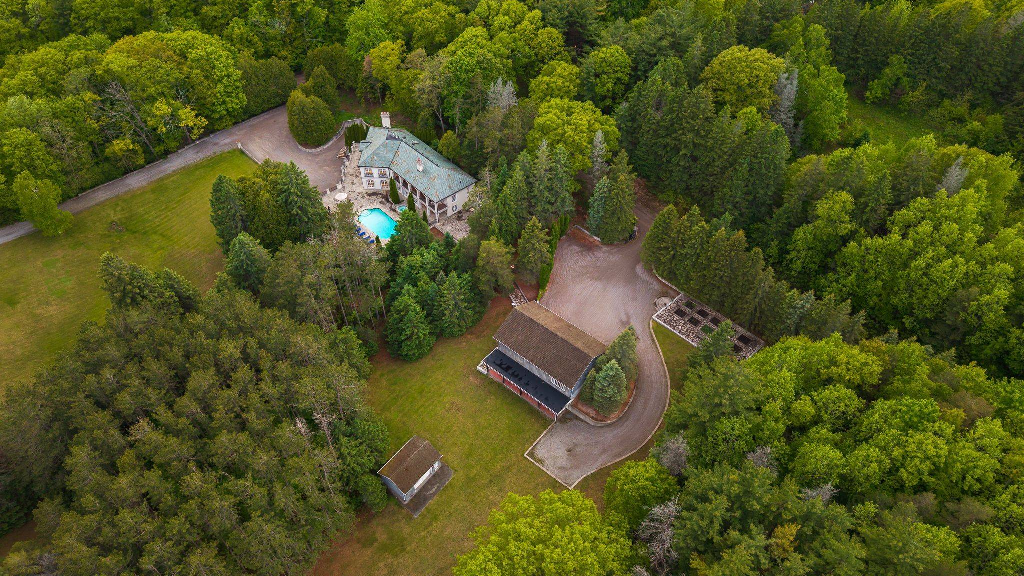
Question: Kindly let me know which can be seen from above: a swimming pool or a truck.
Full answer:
The image shows a swimming pool.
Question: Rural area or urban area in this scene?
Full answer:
The area shown here is rural.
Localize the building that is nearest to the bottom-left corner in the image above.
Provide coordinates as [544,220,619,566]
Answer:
[377,436,443,502]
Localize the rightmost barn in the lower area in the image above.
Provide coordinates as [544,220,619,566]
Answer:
[480,302,611,422]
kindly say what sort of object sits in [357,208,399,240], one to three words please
swimming pool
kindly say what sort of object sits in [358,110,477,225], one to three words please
house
